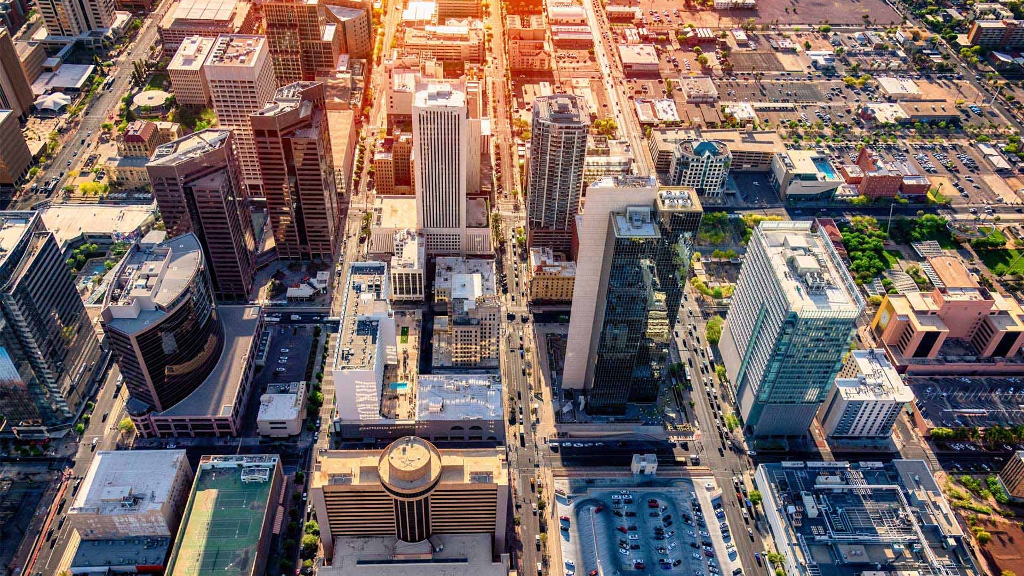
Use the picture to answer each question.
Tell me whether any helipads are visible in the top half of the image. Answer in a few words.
No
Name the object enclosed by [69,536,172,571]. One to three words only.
building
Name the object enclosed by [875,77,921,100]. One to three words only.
house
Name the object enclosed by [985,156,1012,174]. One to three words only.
house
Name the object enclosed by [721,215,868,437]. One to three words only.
building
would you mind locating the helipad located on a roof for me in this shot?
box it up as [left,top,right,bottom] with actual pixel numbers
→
[389,439,429,471]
